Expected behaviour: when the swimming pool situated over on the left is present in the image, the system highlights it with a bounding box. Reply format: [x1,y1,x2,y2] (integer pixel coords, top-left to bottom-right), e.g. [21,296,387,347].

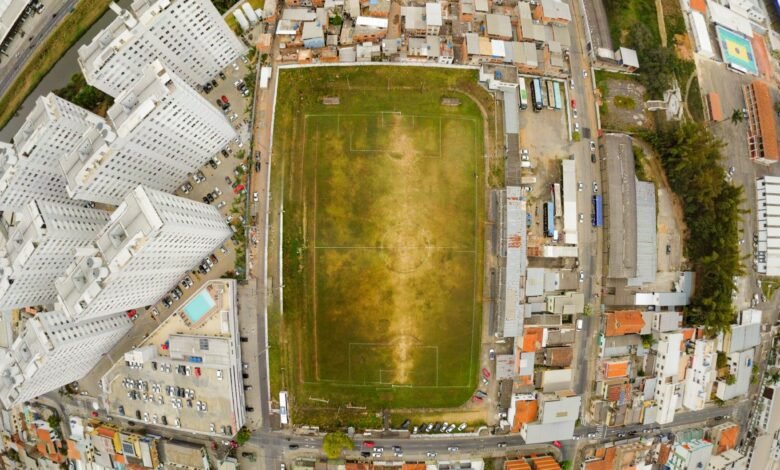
[177,282,222,328]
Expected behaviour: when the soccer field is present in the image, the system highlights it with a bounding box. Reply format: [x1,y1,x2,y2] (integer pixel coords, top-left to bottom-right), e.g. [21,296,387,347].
[268,66,497,432]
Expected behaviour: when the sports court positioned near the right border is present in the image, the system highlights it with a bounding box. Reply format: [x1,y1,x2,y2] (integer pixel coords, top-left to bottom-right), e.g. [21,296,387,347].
[718,25,762,74]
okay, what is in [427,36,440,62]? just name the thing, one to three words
house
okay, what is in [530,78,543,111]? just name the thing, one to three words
vehicle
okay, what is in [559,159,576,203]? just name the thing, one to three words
shed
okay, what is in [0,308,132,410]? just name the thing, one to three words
building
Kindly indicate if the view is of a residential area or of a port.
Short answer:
residential area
